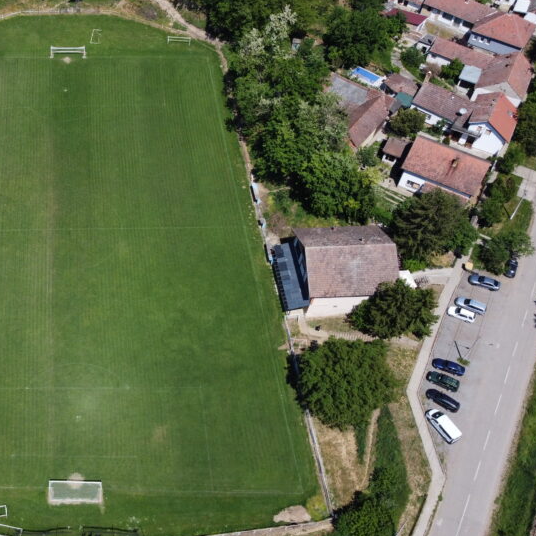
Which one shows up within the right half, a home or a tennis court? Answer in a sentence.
You can see a home within the right half.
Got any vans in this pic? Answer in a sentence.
Yes, the picture does show a van.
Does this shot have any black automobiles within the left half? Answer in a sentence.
No, looking within the left half, there is no black automobile.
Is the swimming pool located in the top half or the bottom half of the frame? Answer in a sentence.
The swimming pool is in the top half of the image.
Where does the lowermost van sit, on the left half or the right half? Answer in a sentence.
The lowermost van is on the right side of the image.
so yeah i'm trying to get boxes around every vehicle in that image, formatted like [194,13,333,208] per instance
[447,304,479,324]
[432,356,469,377]
[455,295,490,315]
[508,255,523,280]
[425,387,465,414]
[424,407,468,444]
[425,369,464,393]
[469,271,503,291]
